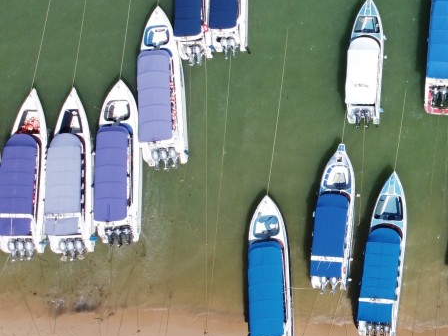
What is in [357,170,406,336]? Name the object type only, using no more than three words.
boat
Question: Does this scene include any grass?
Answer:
No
